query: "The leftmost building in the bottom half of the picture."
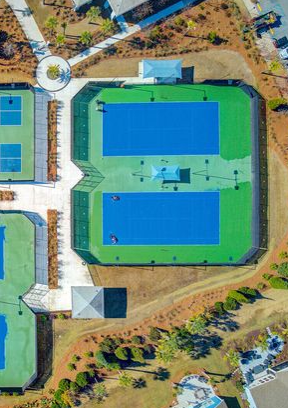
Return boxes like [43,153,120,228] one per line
[68,284,104,319]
